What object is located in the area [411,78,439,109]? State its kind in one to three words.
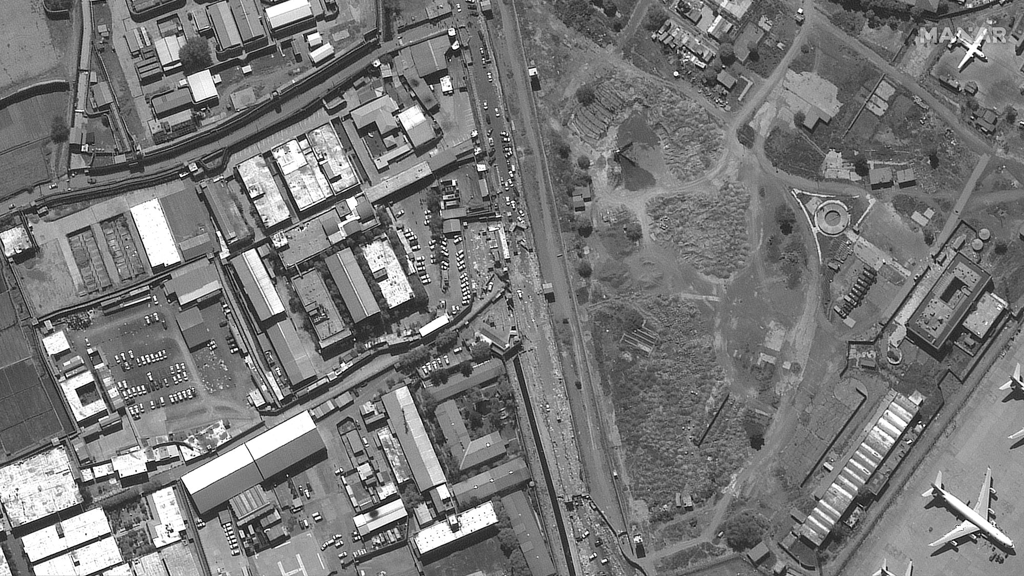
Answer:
shed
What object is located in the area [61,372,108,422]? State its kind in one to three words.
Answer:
house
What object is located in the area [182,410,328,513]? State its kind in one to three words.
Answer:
hangar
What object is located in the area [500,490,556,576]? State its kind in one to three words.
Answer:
building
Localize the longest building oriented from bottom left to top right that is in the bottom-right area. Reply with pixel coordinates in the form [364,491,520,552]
[800,393,918,547]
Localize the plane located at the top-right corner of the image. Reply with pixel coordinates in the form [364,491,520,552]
[952,30,990,70]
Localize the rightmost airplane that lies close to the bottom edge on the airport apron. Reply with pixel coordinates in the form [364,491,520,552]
[921,466,1014,548]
